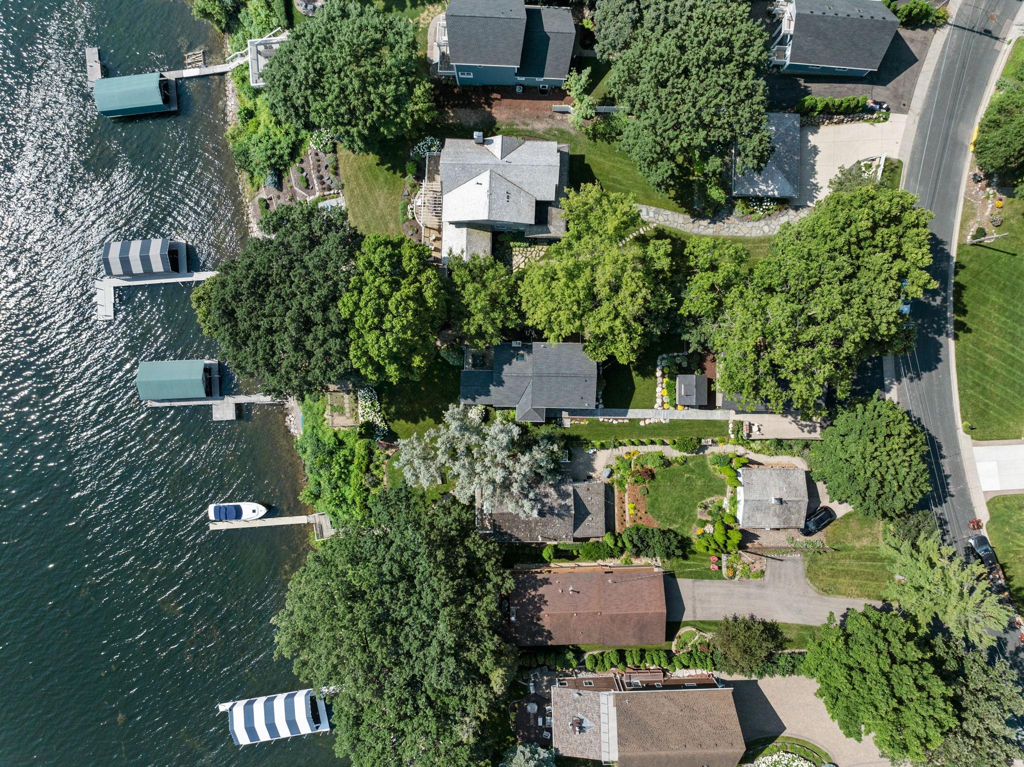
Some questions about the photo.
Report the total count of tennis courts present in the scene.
zero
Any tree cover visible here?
Yes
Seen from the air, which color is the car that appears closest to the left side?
black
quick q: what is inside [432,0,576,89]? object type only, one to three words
house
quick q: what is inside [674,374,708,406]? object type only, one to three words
shed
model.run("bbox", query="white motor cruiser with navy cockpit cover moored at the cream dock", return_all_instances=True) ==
[204,503,267,523]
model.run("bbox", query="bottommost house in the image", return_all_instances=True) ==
[551,662,746,767]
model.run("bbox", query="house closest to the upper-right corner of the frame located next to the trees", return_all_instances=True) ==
[765,0,901,80]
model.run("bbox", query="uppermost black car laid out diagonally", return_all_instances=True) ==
[797,502,839,538]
